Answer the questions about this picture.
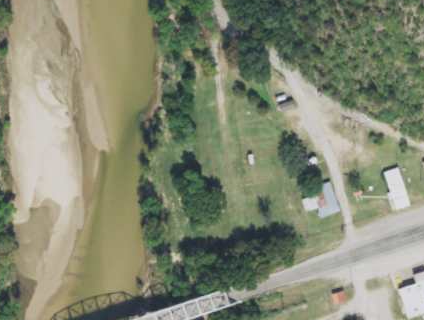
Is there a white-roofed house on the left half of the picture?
No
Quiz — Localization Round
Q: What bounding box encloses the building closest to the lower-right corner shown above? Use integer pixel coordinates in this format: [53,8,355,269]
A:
[398,274,424,320]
